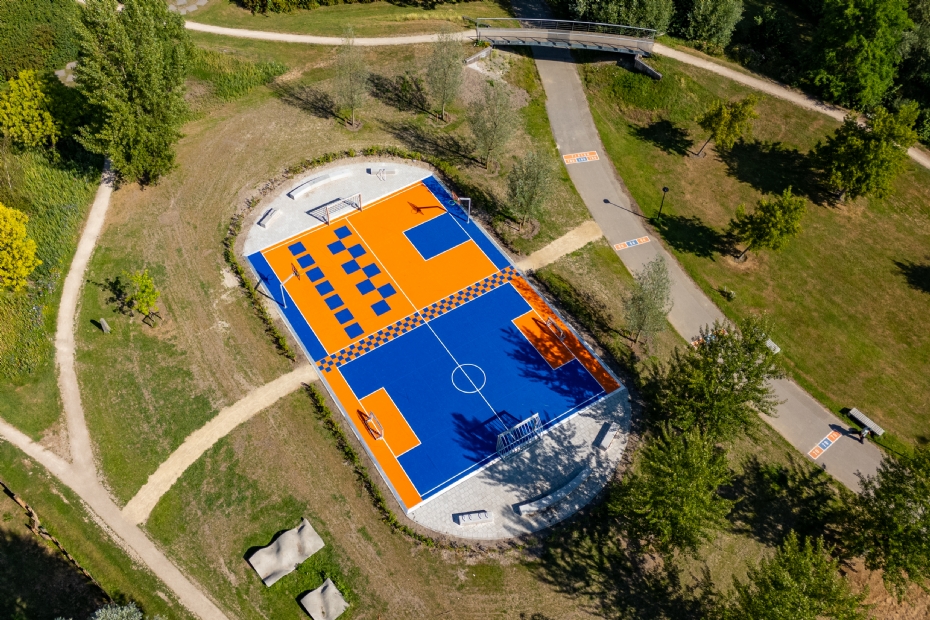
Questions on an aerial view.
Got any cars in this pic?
No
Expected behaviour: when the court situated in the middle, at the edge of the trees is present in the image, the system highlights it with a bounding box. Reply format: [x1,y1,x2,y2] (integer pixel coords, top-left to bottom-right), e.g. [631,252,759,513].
[242,162,630,536]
